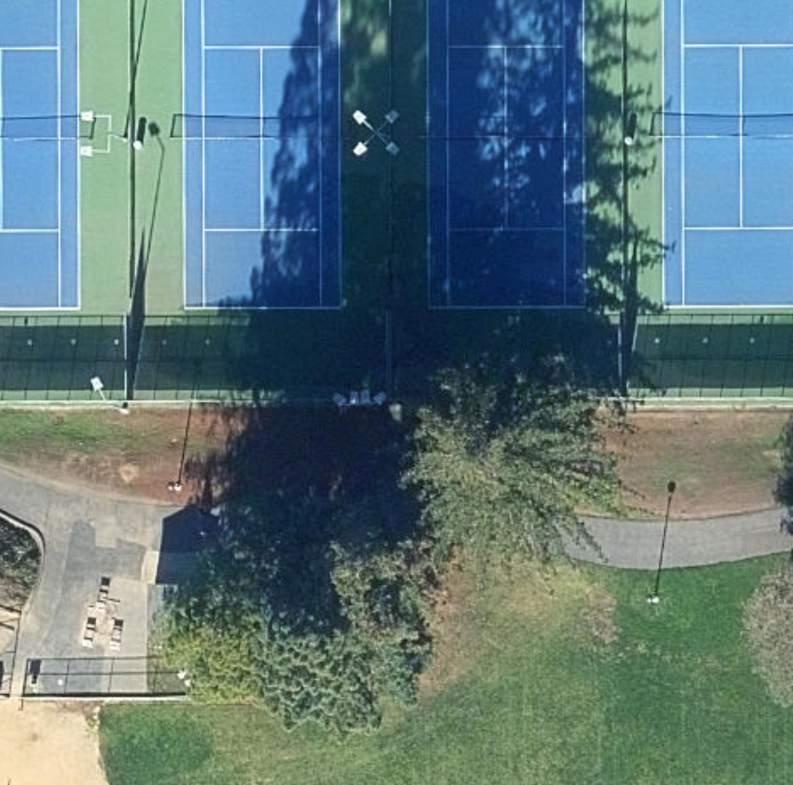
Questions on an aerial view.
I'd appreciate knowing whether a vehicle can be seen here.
No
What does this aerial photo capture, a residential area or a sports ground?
sports ground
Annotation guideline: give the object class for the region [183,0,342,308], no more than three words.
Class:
tennis court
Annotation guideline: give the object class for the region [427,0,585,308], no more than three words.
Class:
tennis court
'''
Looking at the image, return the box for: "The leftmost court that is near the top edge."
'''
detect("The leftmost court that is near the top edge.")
[0,0,80,310]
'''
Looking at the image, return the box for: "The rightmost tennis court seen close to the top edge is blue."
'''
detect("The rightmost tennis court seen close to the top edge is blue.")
[662,0,793,307]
